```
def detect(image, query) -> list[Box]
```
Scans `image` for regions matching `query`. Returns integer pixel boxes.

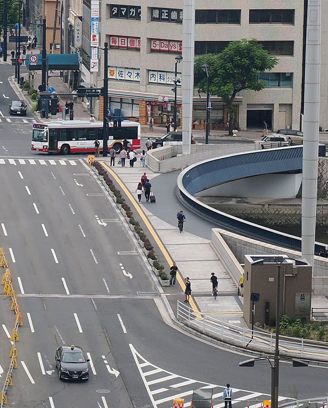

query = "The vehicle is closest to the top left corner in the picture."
[6,100,28,117]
